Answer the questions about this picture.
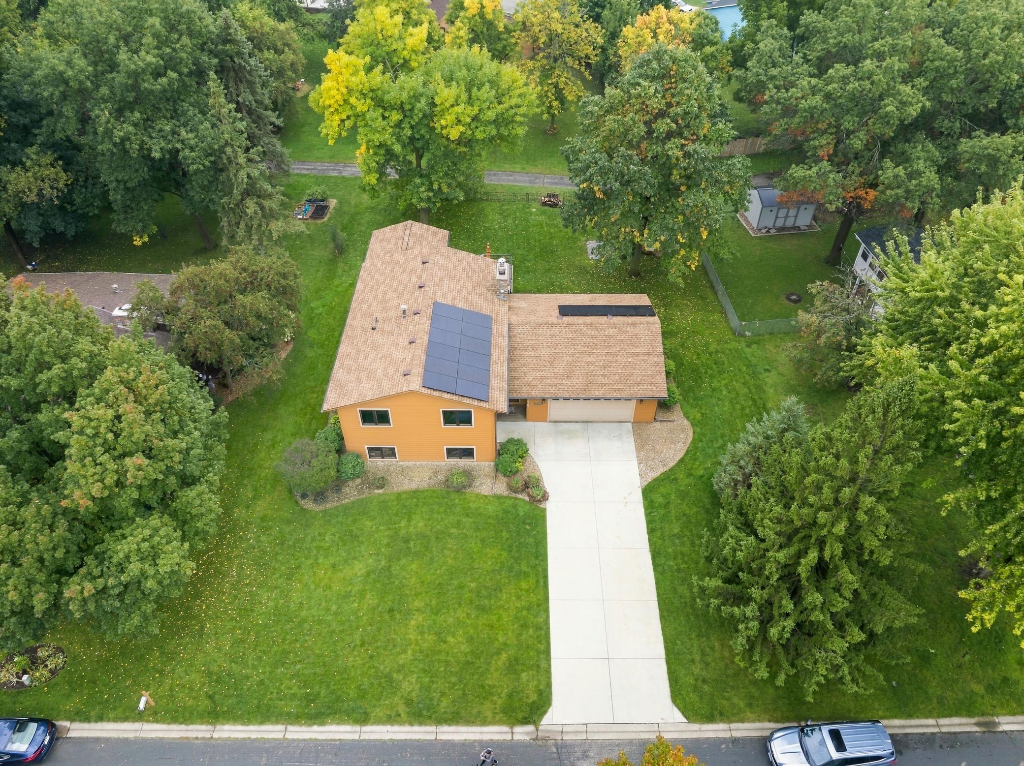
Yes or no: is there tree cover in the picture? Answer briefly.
Yes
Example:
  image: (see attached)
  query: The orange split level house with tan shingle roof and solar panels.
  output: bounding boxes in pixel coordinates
[319,221,675,462]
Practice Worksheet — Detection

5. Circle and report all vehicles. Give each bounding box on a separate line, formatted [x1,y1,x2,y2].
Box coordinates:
[760,718,896,766]
[0,718,64,766]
